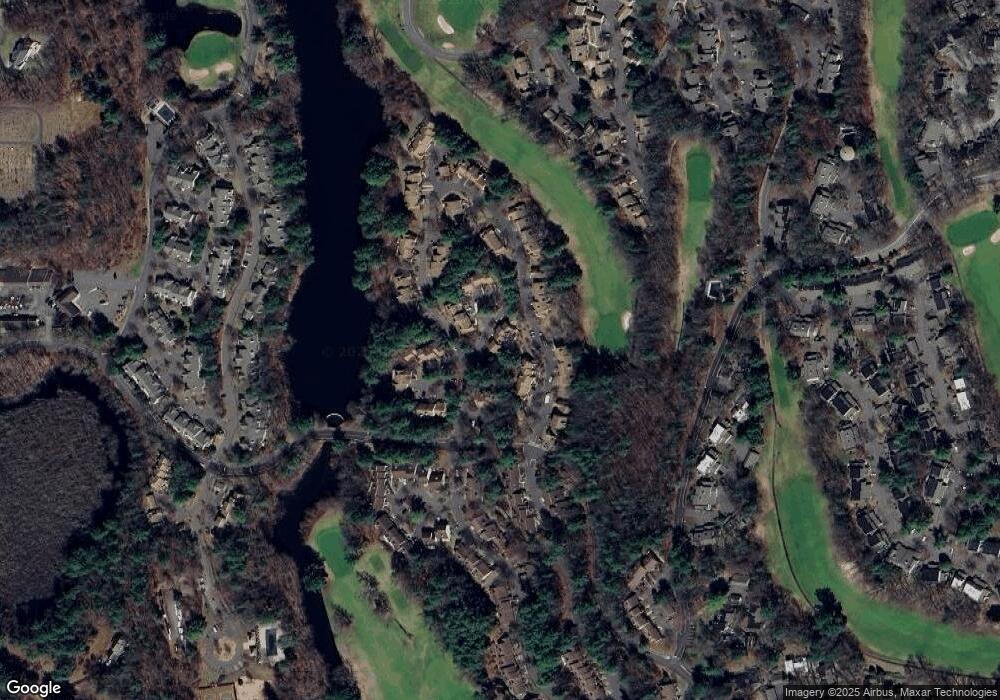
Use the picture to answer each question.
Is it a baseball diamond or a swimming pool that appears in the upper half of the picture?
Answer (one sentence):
The one visible in the upper half of the picture is a swimming pool.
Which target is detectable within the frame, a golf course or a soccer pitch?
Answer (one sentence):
The one in the frame is a golf course.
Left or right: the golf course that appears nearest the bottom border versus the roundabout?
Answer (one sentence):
The golf course that appears nearest the bottom border is to the right of the roundabout.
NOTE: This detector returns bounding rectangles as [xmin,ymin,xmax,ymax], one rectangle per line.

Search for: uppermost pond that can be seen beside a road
[145,0,241,51]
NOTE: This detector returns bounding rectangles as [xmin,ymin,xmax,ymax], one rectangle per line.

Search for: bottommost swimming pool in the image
[261,624,284,662]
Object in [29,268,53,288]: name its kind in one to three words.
building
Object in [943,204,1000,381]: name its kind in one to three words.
golf course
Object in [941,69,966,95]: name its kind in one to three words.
house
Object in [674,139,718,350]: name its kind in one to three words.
golf course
